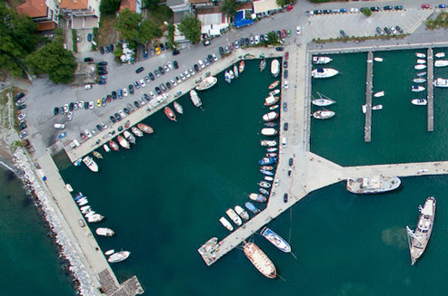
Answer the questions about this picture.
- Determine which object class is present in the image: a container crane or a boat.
boat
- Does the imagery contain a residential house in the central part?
No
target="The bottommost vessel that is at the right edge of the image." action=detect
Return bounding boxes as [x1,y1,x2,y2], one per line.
[406,197,437,267]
